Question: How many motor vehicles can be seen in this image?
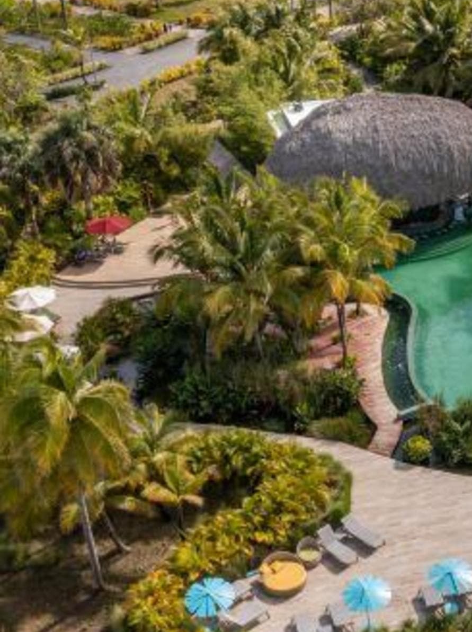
none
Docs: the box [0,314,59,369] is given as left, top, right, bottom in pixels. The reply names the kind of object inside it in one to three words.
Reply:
umbrella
